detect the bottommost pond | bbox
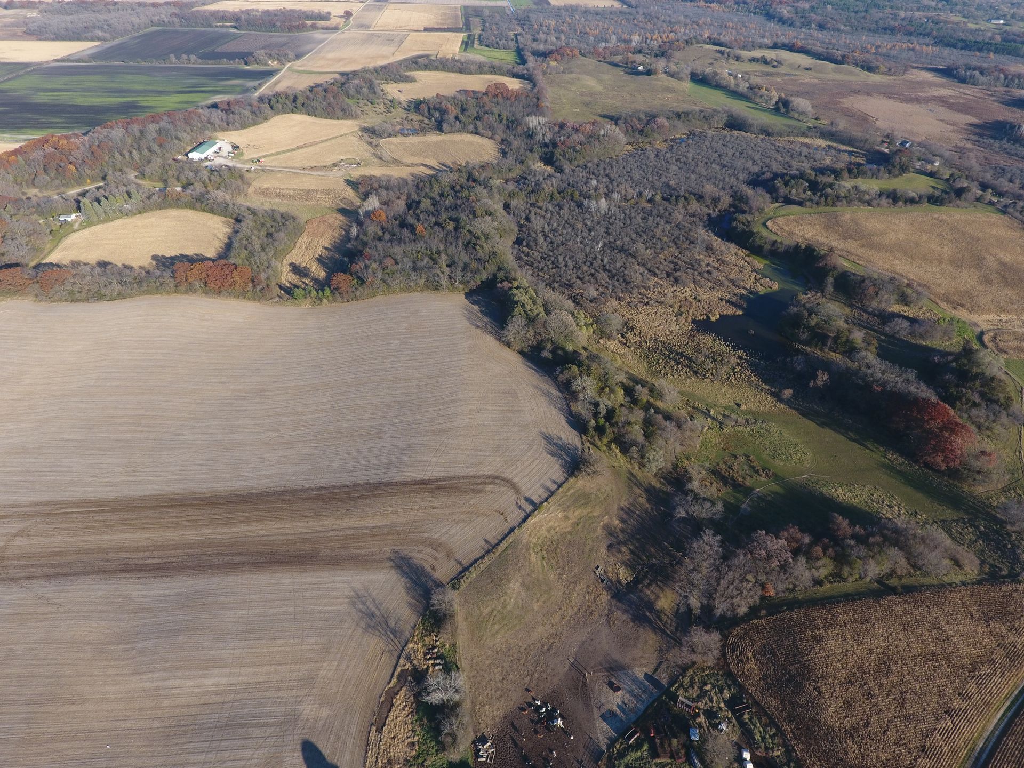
[694,212,811,356]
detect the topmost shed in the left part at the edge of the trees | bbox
[186,138,220,159]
